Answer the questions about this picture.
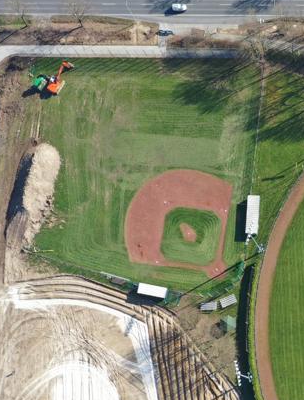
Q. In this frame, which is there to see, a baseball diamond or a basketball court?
baseball diamond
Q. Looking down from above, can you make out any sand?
Yes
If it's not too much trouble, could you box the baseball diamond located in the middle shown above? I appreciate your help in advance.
[29,59,261,308]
